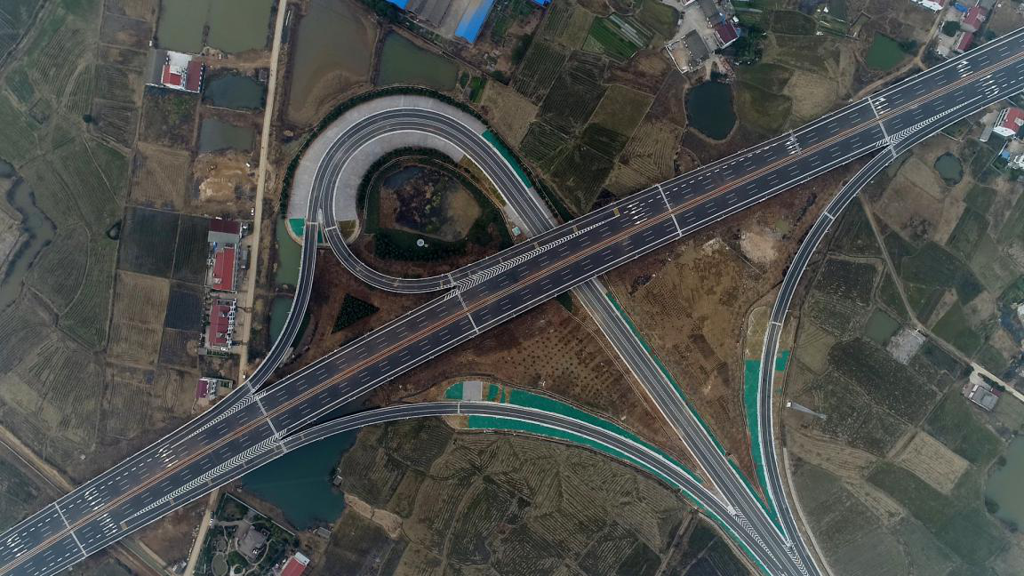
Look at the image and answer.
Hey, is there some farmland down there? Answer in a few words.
Yes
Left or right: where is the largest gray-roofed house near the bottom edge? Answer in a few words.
left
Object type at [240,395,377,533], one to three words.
pond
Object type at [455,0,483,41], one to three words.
building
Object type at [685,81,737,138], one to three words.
pond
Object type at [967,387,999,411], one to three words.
house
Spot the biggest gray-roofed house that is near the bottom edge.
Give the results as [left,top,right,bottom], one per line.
[238,526,270,560]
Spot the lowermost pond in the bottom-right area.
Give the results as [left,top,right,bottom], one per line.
[983,433,1024,535]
